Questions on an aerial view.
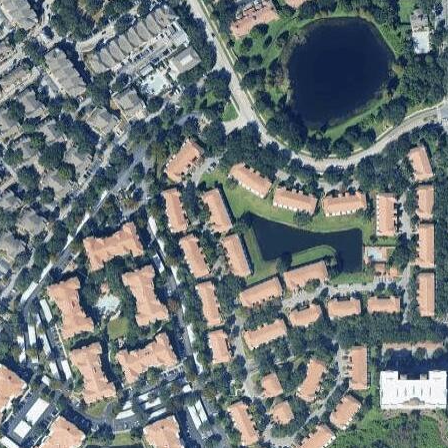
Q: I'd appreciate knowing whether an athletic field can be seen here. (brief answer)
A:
No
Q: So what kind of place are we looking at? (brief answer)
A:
residential area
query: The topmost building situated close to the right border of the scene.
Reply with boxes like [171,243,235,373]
[410,11,431,32]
